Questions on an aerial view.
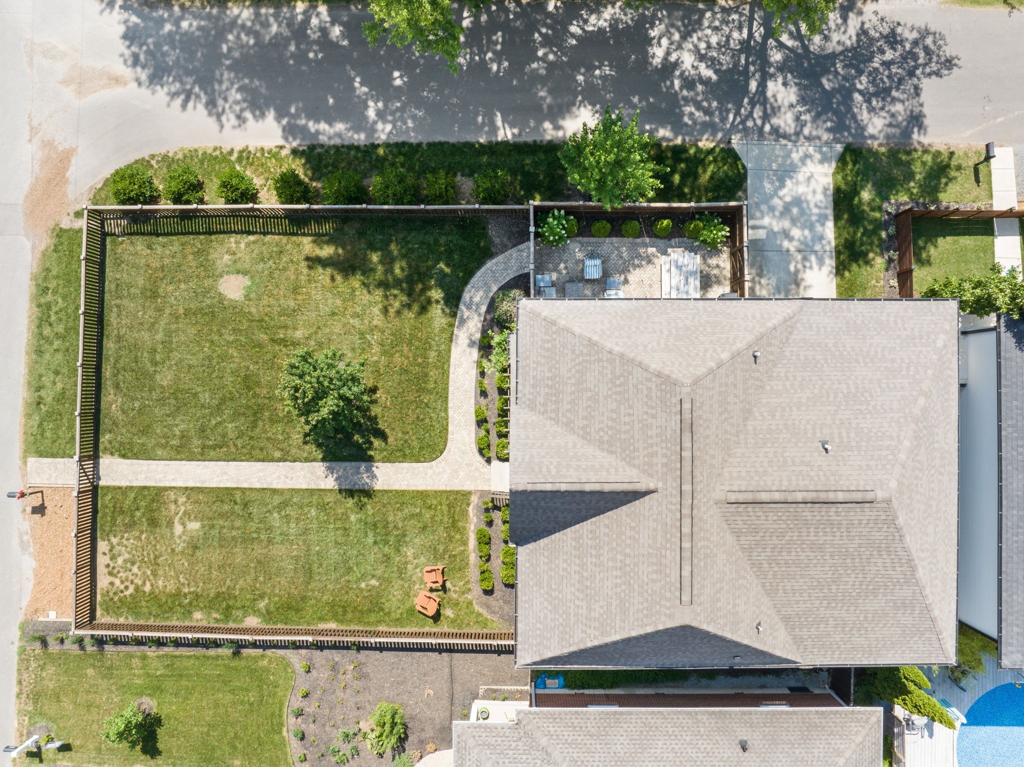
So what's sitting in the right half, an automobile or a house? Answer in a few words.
house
